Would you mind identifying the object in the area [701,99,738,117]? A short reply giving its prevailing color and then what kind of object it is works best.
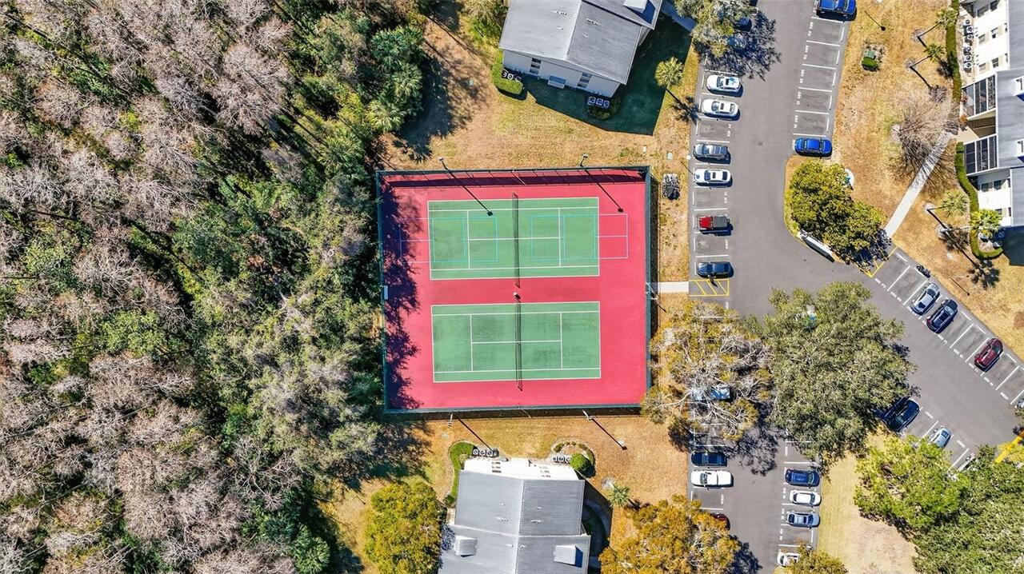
white car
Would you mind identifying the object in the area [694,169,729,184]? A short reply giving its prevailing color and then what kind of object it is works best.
white car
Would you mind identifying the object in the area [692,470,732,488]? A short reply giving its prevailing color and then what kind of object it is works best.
white vehicle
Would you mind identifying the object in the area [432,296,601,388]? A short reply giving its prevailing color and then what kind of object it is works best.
green tennis court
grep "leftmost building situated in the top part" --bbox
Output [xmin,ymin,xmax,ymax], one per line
[498,0,657,96]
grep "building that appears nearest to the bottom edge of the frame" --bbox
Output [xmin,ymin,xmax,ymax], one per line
[437,459,593,574]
